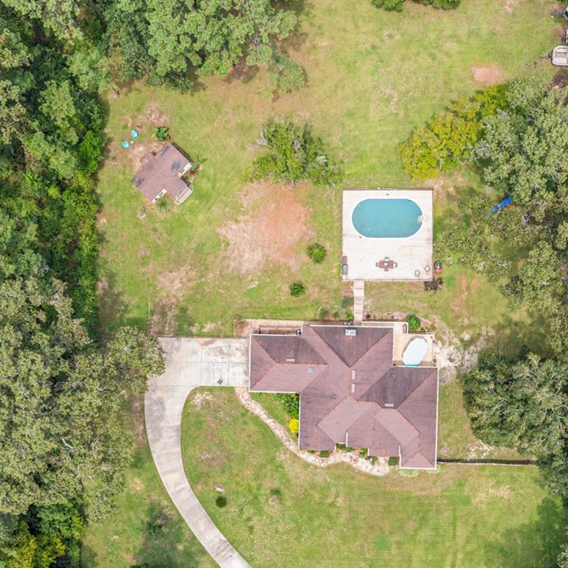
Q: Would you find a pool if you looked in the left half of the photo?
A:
No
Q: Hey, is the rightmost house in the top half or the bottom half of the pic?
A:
bottom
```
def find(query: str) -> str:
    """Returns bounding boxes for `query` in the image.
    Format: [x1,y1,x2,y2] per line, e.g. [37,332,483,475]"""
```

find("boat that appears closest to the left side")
[491,195,512,213]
